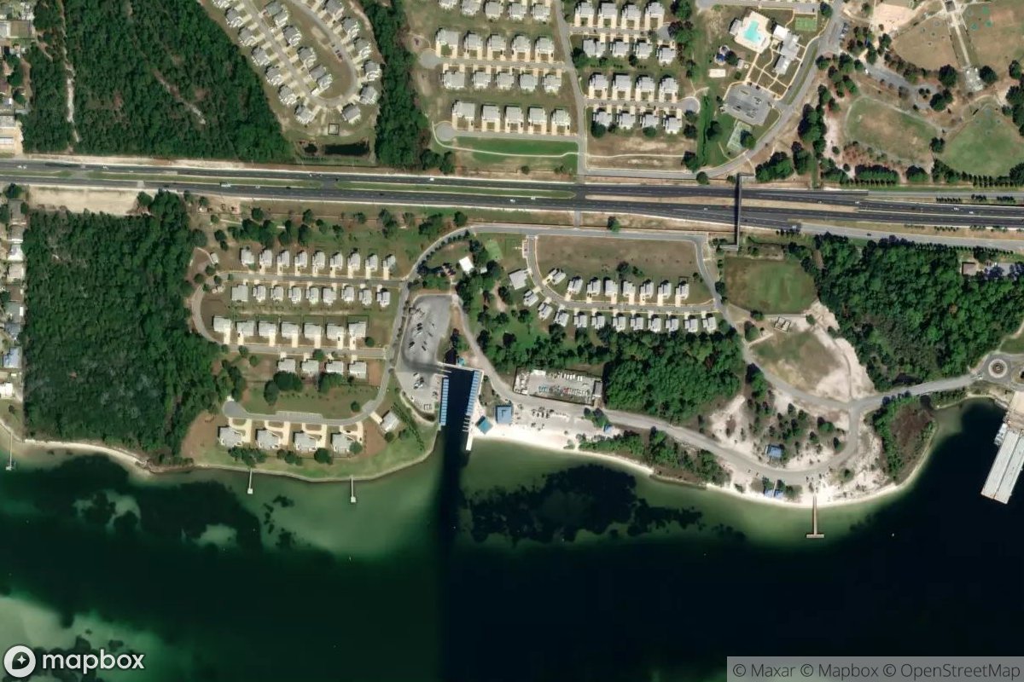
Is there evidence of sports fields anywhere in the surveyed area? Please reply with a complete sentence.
Yes, there's a sports field here.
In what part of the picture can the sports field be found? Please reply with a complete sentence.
You can find the sports field in the top right area of the picture.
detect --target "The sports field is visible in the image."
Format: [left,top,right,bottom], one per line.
[848,98,936,160]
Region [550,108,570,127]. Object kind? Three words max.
house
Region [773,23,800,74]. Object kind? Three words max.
building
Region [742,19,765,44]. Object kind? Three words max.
swimming pool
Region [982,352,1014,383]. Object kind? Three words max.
roundabout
